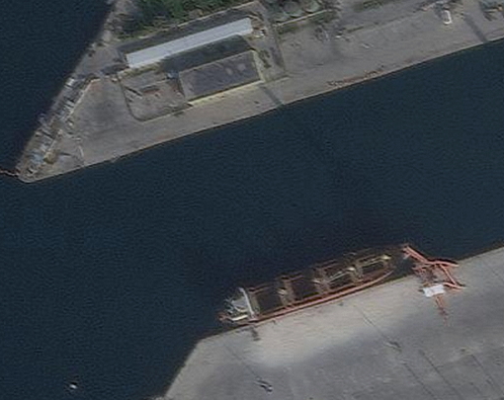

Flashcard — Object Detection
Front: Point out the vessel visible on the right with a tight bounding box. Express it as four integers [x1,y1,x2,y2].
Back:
[218,250,399,325]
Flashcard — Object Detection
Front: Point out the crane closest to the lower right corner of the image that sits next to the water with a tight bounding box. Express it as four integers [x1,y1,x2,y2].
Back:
[400,243,468,321]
